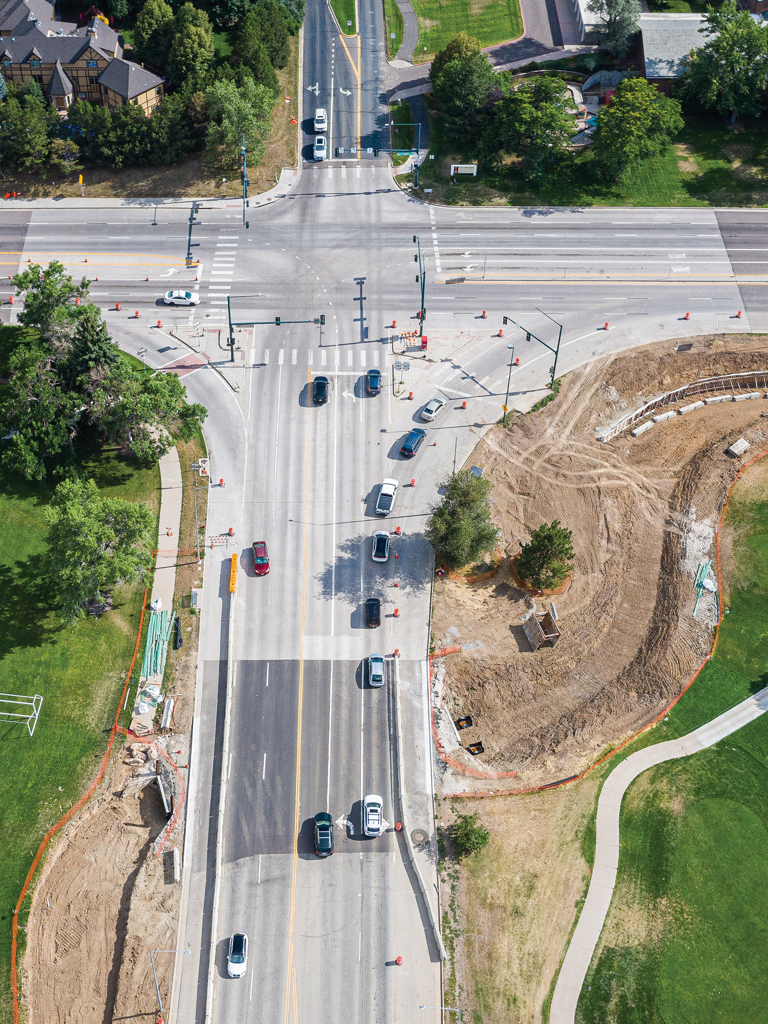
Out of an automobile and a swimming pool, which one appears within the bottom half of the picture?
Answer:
automobile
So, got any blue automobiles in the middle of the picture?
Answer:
Yes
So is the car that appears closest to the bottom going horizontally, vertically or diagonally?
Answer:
vertically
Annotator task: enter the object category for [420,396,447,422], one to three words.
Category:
car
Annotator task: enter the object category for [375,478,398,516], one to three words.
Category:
truck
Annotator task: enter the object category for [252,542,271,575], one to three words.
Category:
car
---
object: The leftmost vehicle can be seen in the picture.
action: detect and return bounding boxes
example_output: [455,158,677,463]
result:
[162,289,200,305]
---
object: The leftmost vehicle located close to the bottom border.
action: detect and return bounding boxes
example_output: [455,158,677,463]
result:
[225,931,249,979]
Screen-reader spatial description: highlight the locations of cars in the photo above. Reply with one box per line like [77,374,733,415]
[420,396,447,422]
[252,542,271,575]
[225,931,249,979]
[372,531,391,563]
[366,370,383,396]
[313,139,327,160]
[401,428,426,458]
[314,110,328,132]
[162,289,200,305]
[367,653,387,689]
[312,812,335,858]
[312,377,330,403]
[362,795,385,837]
[364,598,383,630]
